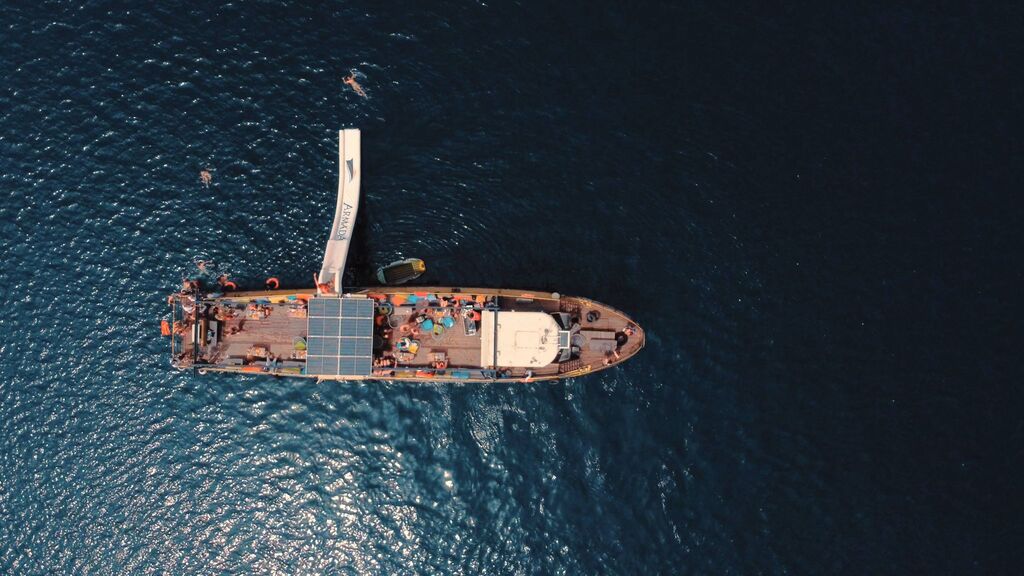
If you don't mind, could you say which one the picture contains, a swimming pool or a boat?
boat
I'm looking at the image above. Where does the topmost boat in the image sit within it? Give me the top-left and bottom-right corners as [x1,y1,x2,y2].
[374,258,425,287]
